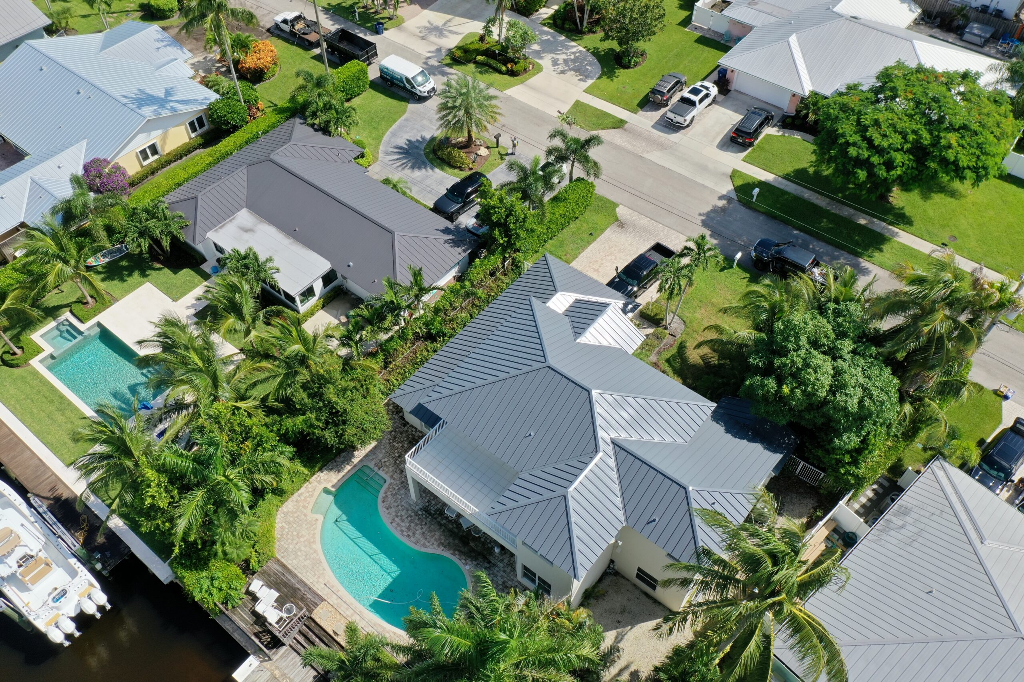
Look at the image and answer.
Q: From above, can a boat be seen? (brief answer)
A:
Yes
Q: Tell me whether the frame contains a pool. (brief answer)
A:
Yes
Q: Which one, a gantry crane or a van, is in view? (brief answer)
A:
van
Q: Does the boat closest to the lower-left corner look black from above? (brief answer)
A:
No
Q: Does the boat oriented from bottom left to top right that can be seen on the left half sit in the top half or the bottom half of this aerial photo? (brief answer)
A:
bottom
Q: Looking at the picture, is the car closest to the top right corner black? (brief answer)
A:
Yes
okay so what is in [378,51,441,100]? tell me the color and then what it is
white van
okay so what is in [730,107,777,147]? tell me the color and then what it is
black car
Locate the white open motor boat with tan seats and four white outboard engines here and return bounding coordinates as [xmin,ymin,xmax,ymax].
[0,487,99,635]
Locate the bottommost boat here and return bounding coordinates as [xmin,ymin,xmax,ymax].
[224,646,265,682]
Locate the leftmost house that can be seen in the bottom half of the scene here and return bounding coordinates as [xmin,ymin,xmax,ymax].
[388,252,792,612]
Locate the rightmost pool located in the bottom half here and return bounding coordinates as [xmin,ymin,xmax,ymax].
[321,465,469,629]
